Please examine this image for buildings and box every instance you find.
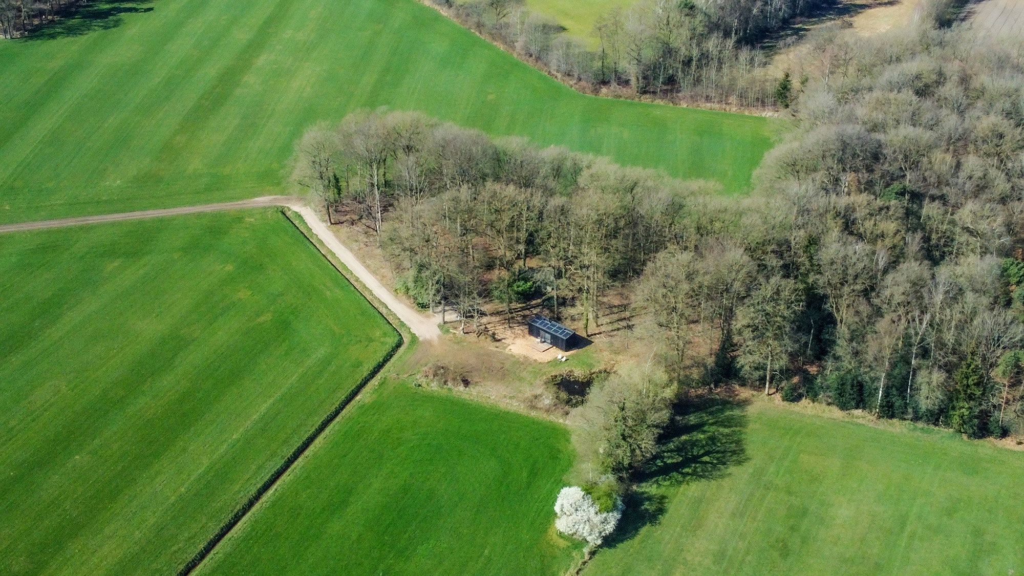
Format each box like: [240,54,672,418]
[528,313,576,351]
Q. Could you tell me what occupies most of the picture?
grass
